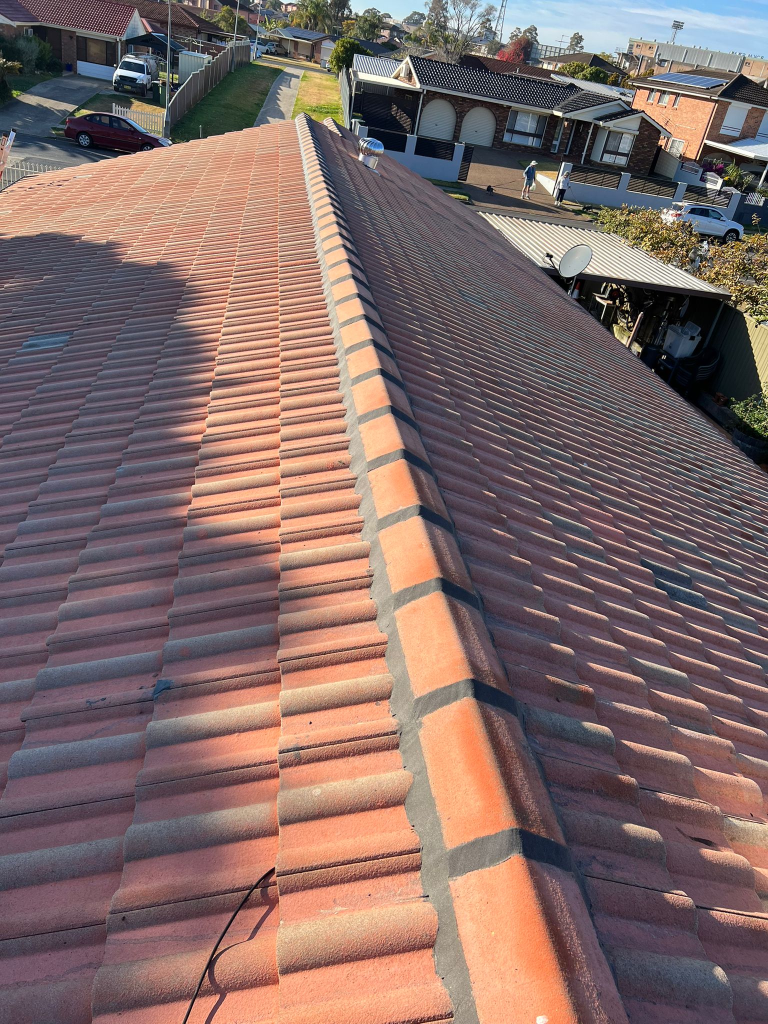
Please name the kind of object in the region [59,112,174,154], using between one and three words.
car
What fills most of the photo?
buildings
